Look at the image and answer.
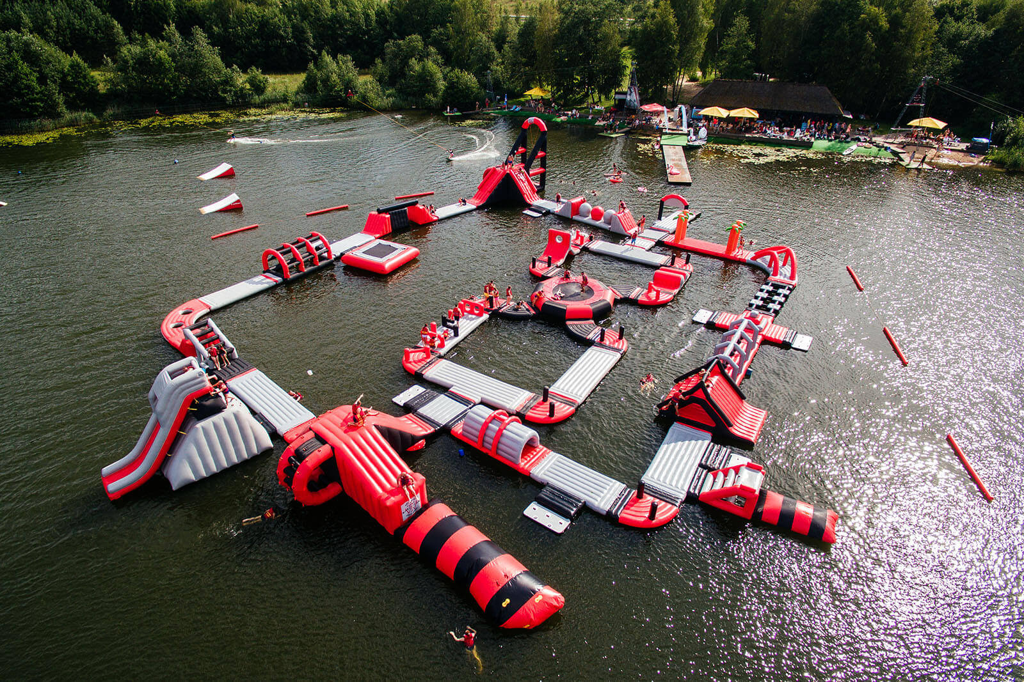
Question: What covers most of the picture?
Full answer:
What you mostly see from above here is water.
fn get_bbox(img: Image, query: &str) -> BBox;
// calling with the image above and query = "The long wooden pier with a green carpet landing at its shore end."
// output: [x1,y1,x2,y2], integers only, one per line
[661,131,692,188]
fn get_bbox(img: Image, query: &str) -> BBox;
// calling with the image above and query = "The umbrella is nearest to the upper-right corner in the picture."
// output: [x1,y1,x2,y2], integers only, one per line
[906,117,963,131]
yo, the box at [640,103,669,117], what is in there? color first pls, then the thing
red umbrella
